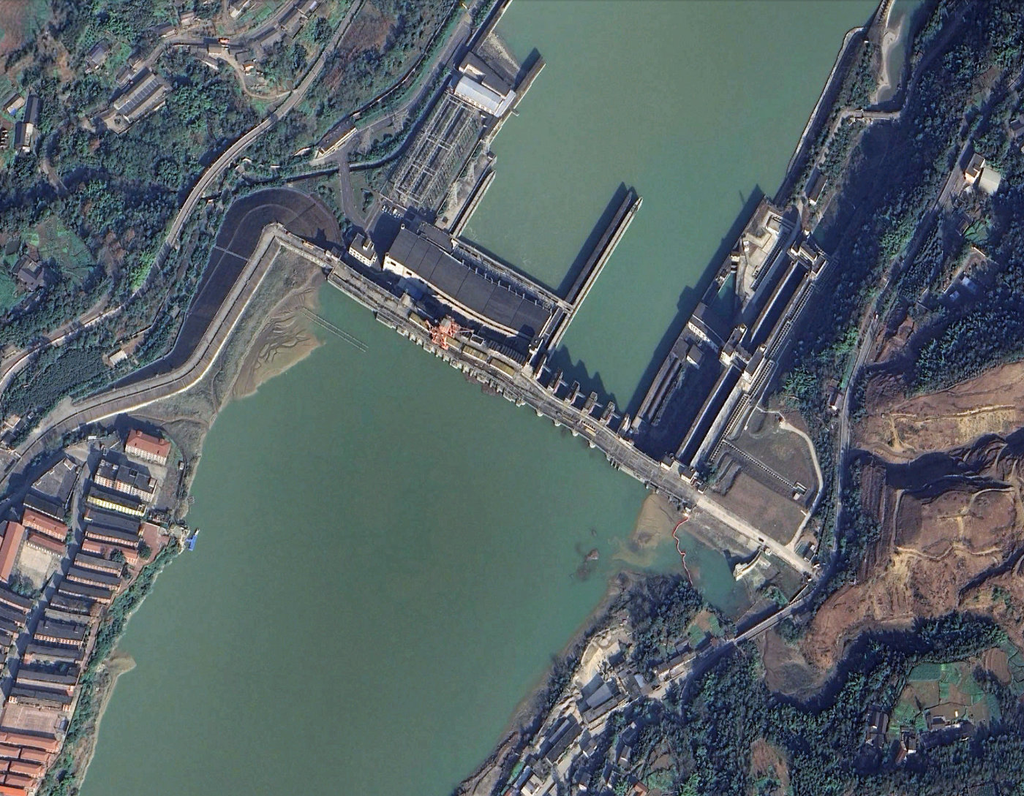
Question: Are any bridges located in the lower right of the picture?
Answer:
Yes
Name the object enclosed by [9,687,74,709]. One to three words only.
building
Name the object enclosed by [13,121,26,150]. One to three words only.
barn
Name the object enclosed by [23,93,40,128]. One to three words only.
barn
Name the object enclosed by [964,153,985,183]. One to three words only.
house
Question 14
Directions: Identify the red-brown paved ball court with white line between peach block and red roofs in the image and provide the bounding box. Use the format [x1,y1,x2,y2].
[1,704,58,733]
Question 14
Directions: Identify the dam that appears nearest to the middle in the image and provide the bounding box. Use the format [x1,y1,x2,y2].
[326,250,720,517]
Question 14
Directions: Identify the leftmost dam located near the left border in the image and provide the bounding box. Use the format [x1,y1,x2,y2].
[0,188,344,497]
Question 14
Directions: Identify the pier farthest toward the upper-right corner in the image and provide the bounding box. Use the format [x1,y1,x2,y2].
[510,56,546,117]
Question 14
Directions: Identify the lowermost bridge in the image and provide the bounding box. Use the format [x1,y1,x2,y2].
[727,591,813,647]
